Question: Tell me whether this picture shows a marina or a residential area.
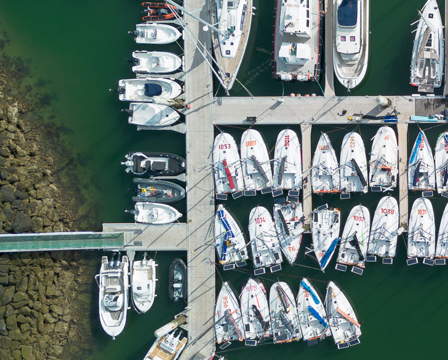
marina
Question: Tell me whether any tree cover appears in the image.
No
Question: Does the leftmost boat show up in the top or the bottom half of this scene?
bottom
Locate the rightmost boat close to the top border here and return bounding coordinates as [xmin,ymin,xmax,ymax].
[410,0,446,91]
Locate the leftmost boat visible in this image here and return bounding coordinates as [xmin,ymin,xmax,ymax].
[96,248,132,339]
